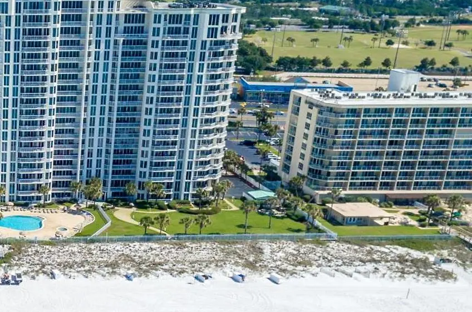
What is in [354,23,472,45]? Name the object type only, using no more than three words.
sports field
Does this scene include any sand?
Yes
